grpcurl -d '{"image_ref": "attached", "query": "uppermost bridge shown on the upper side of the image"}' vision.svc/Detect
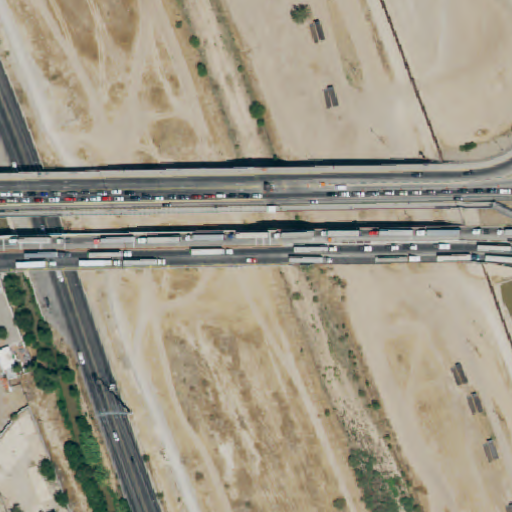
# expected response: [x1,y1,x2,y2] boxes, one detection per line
[0,150,512,217]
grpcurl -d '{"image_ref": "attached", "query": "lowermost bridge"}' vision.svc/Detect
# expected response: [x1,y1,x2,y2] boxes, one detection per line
[0,228,512,270]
